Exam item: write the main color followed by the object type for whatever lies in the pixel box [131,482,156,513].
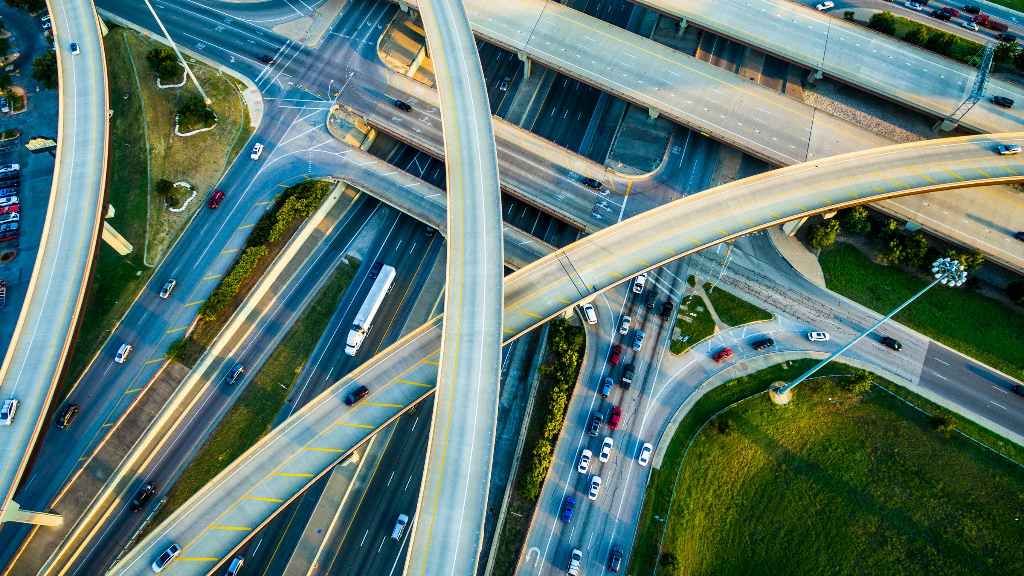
black truck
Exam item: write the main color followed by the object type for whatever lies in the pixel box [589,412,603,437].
blue car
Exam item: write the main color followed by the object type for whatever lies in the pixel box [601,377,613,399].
blue vehicle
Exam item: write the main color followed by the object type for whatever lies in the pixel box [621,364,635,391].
black vehicle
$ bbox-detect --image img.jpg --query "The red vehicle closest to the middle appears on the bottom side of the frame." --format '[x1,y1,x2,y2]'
[609,345,622,367]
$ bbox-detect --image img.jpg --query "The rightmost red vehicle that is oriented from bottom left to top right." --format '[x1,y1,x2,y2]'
[712,348,734,365]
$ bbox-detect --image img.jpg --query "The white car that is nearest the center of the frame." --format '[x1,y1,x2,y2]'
[584,305,596,324]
